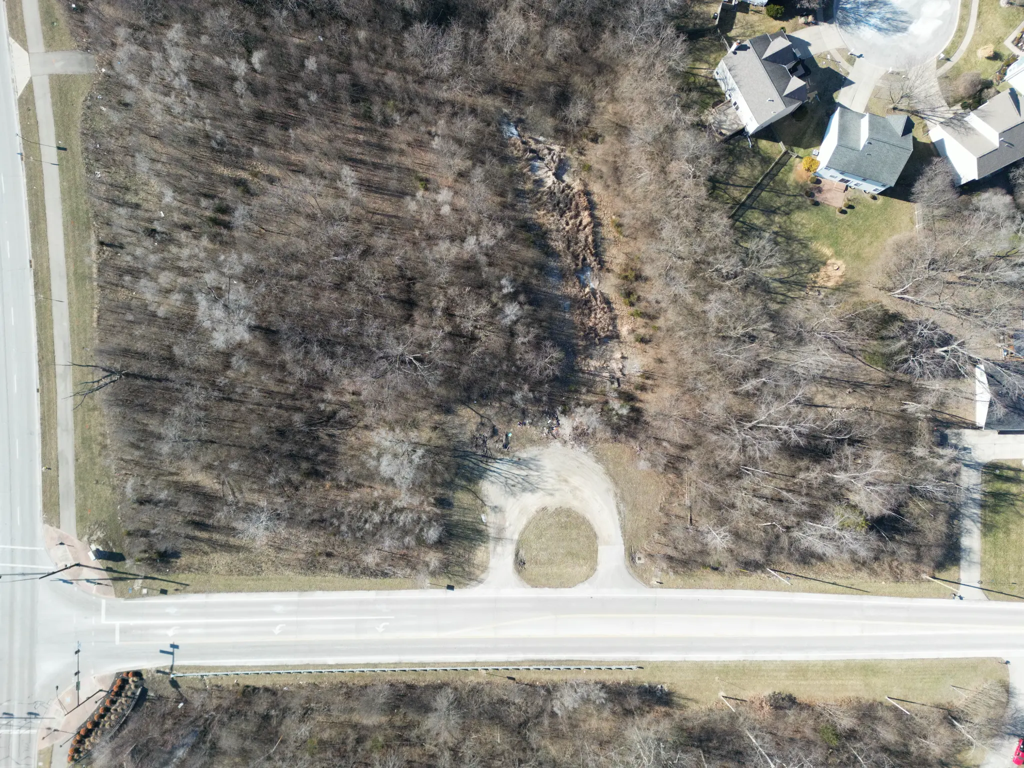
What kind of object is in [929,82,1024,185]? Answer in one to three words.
house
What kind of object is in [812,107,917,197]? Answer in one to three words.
house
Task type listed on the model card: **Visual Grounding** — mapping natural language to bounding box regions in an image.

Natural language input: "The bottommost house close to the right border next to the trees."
[975,363,1024,430]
